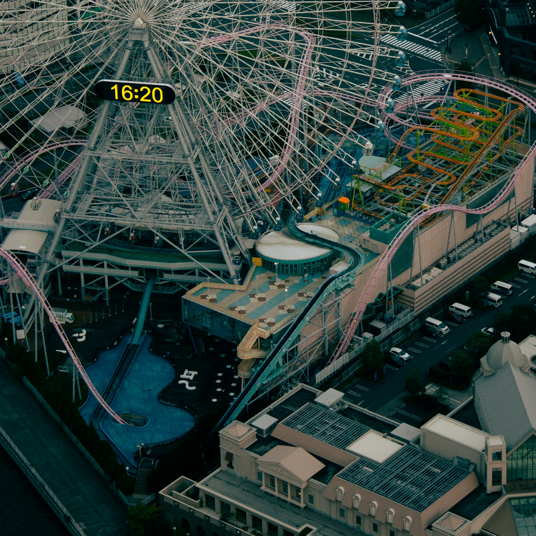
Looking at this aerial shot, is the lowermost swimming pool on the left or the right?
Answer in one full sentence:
The lowermost swimming pool is on the left side of the image.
